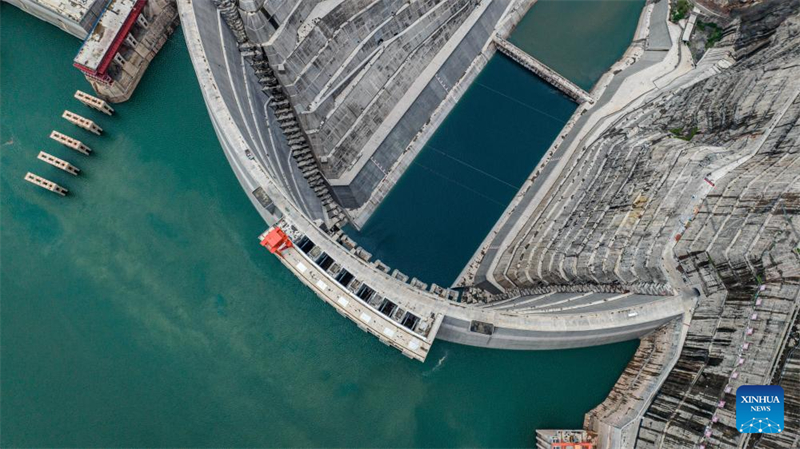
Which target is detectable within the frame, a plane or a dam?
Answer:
dam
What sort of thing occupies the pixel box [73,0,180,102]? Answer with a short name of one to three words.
building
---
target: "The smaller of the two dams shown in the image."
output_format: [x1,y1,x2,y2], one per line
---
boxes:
[493,36,593,108]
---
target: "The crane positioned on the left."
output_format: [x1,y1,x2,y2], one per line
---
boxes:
[260,230,292,261]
